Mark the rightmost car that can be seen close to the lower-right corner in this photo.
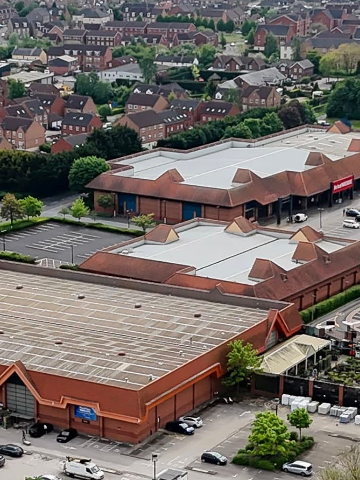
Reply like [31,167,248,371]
[283,460,315,476]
